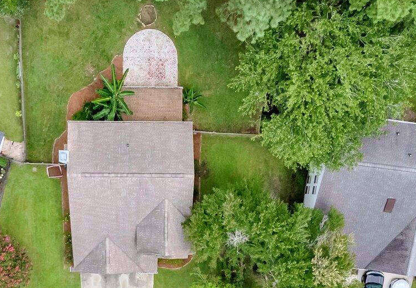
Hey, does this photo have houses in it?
Yes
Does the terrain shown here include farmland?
No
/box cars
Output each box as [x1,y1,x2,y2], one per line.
[362,270,385,288]
[389,277,410,288]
